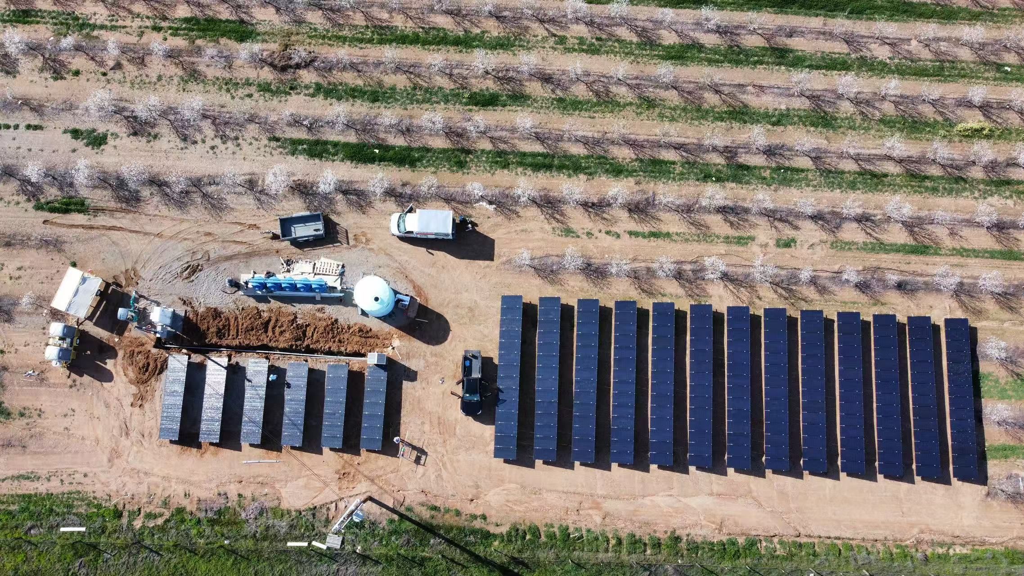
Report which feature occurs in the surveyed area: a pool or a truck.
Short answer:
truck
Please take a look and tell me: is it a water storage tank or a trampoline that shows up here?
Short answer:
water storage tank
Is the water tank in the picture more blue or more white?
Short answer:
white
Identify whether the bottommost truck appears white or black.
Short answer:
black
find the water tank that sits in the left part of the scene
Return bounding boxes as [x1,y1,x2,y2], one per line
[353,274,397,316]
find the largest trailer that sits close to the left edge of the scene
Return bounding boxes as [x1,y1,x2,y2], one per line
[50,267,108,327]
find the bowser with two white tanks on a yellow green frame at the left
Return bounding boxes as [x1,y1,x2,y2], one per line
[45,322,84,376]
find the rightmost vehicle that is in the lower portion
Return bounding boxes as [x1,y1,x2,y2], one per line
[450,350,491,414]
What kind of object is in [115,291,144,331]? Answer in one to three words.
work vehicle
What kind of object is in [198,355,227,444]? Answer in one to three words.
solar array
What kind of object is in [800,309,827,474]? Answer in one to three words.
solar array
